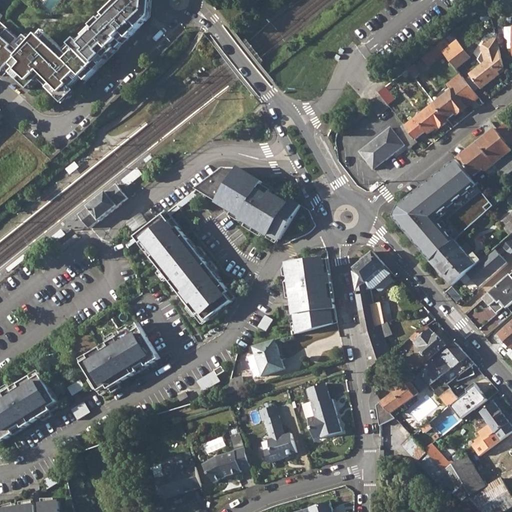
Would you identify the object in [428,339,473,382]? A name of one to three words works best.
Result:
house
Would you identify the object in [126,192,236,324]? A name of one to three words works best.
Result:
building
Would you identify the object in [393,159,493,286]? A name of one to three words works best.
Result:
building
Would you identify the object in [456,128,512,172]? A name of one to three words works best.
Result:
house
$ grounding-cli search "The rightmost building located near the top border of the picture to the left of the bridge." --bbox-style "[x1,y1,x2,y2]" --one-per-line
[76,0,156,80]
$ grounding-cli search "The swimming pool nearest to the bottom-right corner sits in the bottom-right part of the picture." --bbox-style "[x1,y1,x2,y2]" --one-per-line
[433,410,461,436]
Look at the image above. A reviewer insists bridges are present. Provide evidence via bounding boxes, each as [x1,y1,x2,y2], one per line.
[180,0,296,120]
